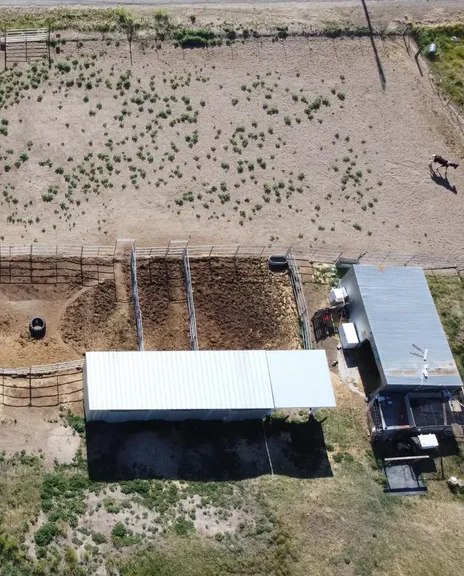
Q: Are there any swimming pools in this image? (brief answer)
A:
No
